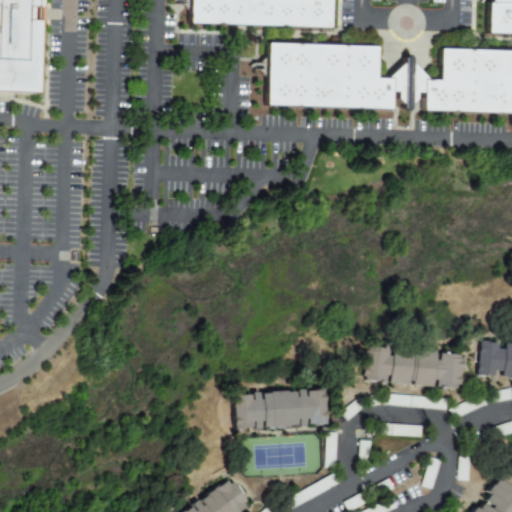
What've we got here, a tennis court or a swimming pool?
tennis court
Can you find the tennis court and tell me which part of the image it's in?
bottom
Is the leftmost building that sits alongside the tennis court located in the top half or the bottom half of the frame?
bottom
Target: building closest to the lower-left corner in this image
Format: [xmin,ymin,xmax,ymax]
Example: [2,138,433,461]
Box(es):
[183,478,254,512]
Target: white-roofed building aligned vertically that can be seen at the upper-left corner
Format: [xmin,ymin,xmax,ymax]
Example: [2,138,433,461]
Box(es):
[0,0,46,92]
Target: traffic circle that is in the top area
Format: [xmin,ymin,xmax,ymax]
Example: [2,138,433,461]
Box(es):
[388,4,426,42]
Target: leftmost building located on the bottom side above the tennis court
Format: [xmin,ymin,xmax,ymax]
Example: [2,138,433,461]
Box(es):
[235,388,330,432]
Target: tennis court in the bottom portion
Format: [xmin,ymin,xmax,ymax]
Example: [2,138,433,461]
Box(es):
[243,434,322,478]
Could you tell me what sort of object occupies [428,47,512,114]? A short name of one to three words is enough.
building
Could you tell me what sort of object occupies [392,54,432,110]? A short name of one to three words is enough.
building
